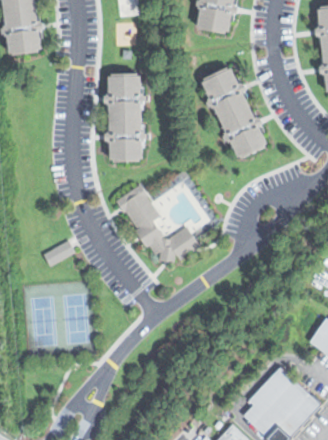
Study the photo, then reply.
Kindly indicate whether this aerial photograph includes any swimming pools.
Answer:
Yes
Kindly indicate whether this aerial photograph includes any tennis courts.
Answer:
Yes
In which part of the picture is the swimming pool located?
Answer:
center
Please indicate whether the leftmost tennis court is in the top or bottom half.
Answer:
bottom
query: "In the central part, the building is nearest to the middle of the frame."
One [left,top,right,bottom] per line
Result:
[118,184,198,264]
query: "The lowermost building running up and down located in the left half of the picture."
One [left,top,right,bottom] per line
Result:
[105,74,146,162]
